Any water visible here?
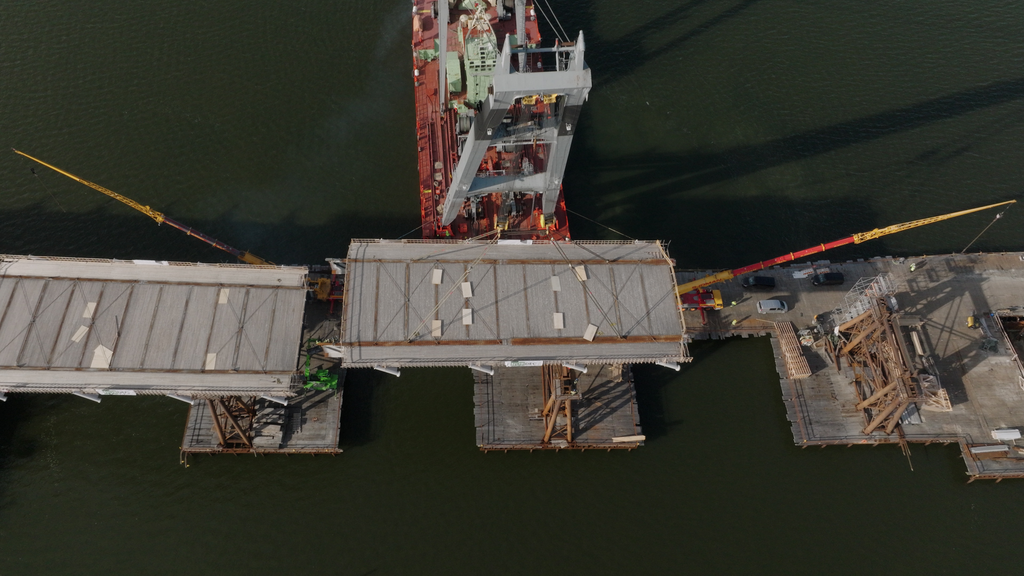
Yes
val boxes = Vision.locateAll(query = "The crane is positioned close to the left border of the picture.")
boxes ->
[12,149,350,323]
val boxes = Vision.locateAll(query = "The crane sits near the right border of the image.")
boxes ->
[670,200,1017,325]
